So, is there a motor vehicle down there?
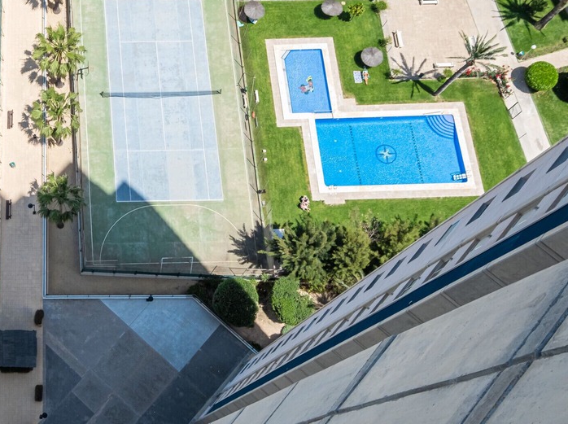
No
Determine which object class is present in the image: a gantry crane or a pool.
pool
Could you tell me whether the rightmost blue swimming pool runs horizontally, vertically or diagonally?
horizontally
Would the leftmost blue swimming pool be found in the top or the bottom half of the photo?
top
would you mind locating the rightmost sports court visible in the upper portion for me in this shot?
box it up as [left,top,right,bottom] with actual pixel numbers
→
[73,0,264,276]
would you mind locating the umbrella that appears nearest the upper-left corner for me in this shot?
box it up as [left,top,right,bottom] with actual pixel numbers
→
[240,1,264,21]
